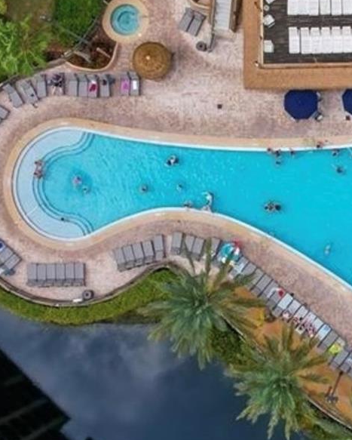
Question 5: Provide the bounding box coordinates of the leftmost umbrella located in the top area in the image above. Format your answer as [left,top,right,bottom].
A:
[133,40,177,84]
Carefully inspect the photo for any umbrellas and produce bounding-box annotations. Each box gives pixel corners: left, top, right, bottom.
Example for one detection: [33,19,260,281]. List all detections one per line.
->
[133,40,177,84]
[284,88,319,122]
[341,88,352,116]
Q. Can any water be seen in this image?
Yes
